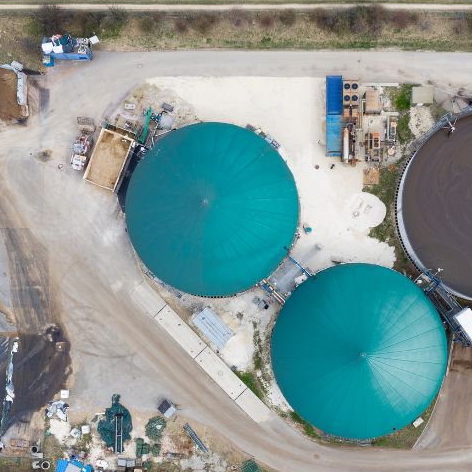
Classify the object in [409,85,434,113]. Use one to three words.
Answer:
shed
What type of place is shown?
industrial area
